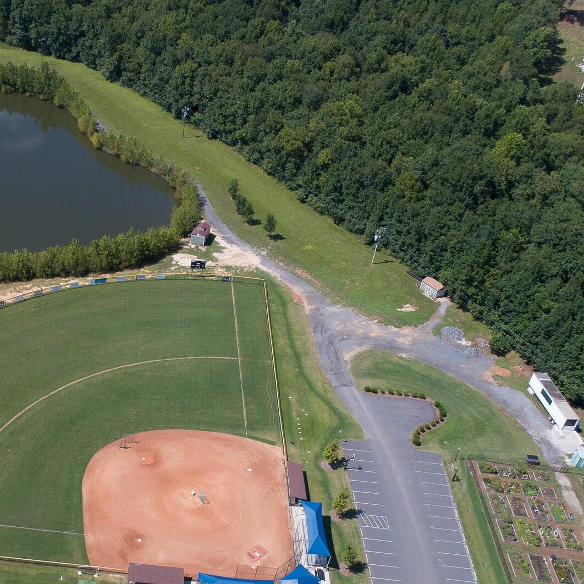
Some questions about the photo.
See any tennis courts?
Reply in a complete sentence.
No, there isn't any tennis court down there.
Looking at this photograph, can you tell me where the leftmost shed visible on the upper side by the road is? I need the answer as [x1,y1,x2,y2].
[190,221,211,245]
